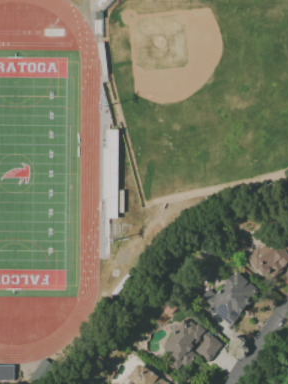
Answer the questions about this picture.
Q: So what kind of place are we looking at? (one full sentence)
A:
It's a sports ground.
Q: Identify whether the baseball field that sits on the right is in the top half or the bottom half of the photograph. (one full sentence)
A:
It is in the top half that the baseball field that sits on the right appears.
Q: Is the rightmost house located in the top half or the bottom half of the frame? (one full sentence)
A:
You can find the rightmost house in the bottom half.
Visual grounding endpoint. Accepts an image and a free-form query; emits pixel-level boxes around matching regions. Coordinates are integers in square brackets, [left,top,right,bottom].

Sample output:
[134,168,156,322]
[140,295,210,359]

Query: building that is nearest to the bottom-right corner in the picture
[196,334,222,362]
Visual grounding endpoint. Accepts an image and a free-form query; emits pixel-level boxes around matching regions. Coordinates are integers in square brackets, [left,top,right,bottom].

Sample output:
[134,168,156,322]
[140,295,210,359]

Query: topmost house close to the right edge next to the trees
[251,245,288,278]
